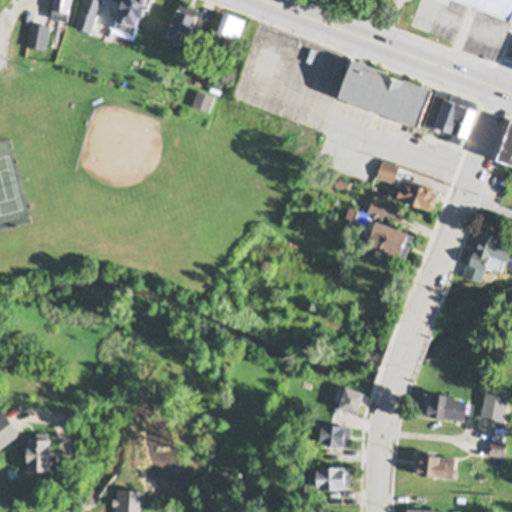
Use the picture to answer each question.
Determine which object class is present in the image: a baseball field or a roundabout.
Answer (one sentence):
The one in the frame is a baseball field.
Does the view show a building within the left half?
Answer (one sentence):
Yes, you'll find a building within the left half.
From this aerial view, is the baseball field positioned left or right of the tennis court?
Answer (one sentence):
Looking at the picture, you'll find the baseball field to the right of the tennis court.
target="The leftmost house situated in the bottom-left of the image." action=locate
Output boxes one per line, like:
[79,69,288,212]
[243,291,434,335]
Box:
[0,410,30,452]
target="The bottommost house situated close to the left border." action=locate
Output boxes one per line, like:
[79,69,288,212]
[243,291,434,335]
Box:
[25,435,52,474]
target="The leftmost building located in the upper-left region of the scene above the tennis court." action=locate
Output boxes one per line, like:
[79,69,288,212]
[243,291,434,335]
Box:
[26,24,50,52]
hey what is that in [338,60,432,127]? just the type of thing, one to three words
building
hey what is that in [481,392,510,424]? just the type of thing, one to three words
building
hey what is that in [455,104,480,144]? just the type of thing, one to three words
house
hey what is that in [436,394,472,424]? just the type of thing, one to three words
house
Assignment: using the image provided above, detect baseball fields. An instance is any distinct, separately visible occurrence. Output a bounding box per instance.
[80,105,162,187]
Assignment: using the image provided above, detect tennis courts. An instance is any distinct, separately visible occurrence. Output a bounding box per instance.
[0,140,34,230]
